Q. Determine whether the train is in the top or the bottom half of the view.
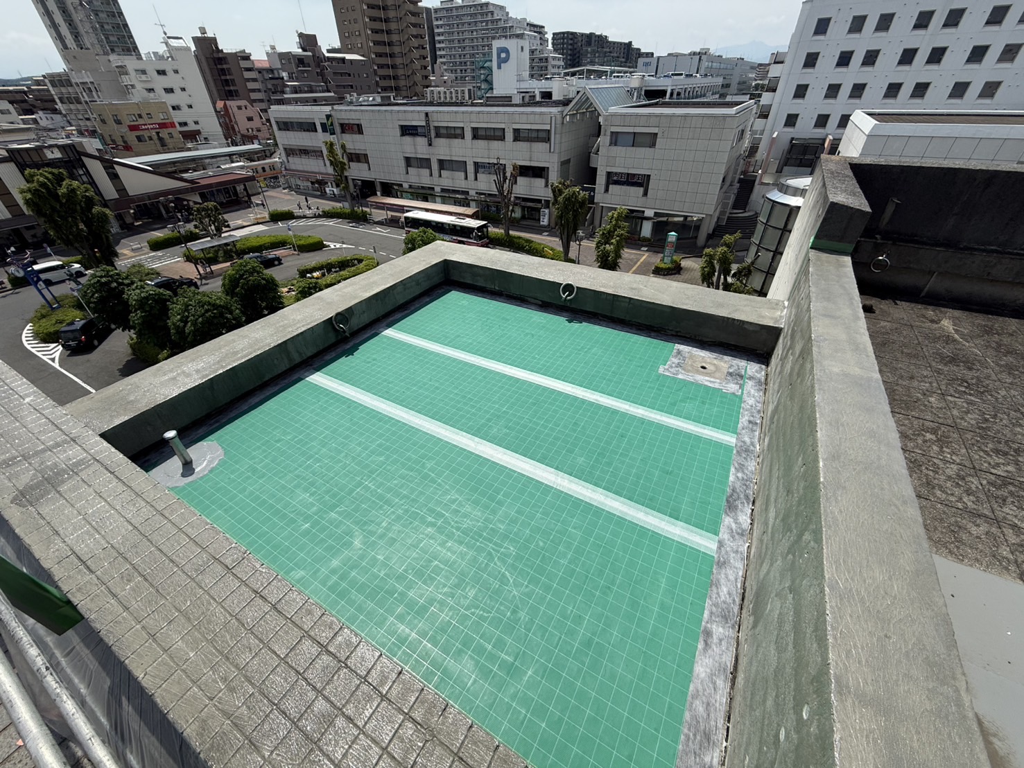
top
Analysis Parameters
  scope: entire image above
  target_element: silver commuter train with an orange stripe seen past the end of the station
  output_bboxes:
[237,158,287,178]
